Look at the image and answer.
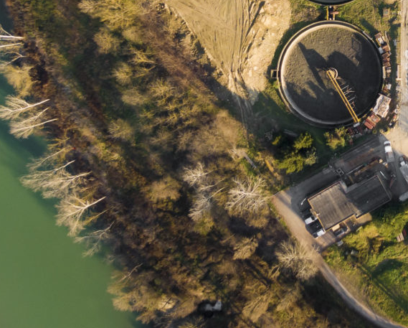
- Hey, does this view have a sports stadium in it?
No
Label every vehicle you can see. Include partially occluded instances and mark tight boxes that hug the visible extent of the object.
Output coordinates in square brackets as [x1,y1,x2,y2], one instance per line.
[382,141,393,163]
[311,228,327,240]
[307,222,323,233]
[398,159,408,183]
[298,208,314,219]
[303,215,319,228]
